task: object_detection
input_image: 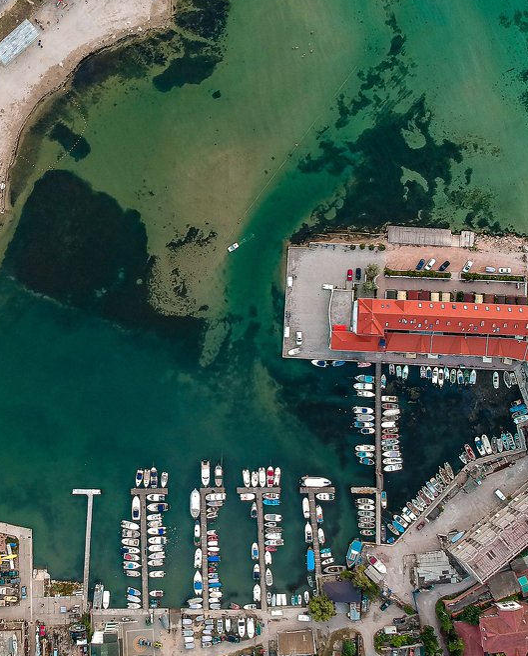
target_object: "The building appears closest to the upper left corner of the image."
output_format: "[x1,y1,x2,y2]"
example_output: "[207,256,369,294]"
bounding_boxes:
[0,20,39,68]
